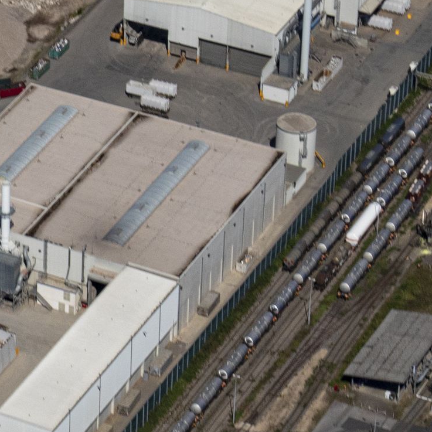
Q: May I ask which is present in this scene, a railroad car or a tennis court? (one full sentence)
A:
It is a railroad car that can be seen here.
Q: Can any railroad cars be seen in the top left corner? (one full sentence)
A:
No, looking in the top left corner, there is no railroad car.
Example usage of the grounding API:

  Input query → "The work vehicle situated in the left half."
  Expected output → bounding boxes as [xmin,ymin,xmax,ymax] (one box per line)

[104,21,132,46]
